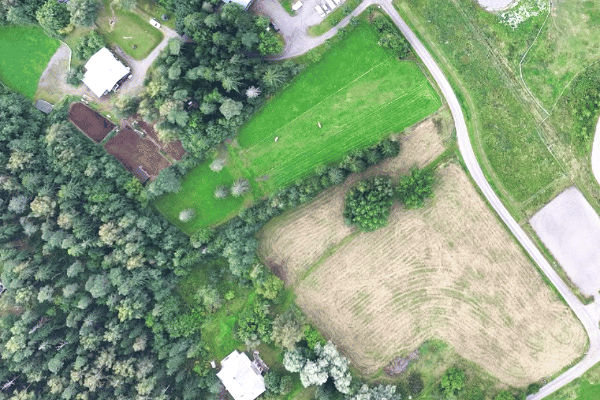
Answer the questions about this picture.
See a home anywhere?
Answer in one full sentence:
Yes, I can see a home in this picture.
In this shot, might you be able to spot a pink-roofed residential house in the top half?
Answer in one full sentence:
No, I can find no pink-roofed residential house in the top half.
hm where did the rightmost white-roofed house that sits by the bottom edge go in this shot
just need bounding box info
[216,355,269,400]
